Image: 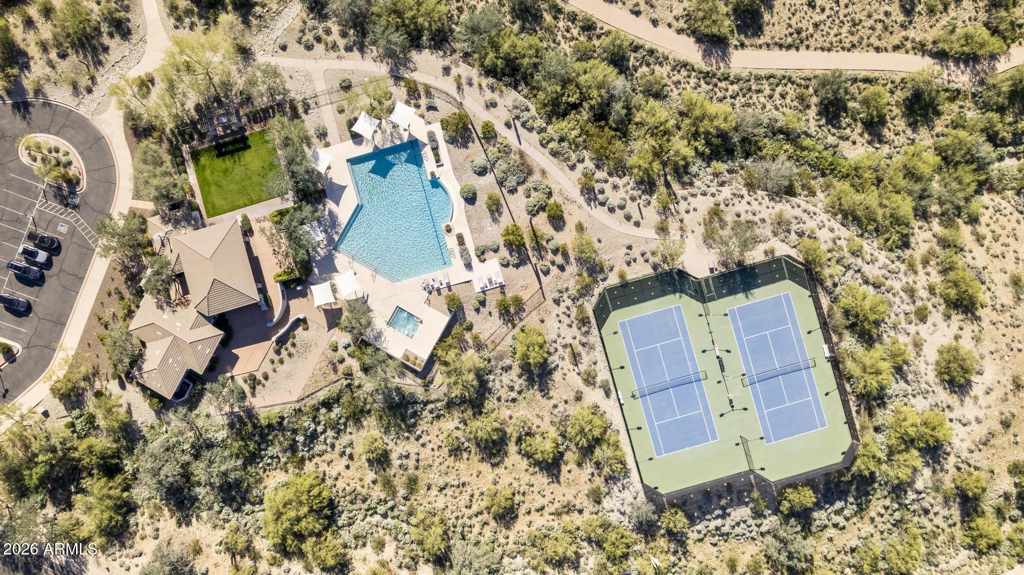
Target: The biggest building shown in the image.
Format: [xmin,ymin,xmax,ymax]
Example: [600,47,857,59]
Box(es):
[128,214,262,399]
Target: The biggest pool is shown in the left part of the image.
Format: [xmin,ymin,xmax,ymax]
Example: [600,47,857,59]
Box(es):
[334,139,453,283]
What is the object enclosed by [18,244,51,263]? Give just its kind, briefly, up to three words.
car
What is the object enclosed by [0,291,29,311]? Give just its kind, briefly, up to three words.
car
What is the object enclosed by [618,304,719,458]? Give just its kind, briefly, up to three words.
tennis court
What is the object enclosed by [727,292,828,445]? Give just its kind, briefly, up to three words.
tennis court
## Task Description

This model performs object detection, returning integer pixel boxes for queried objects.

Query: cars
[0,291,29,311]
[18,244,51,263]
[7,260,42,280]
[27,230,59,249]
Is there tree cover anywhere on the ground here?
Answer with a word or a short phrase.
Yes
